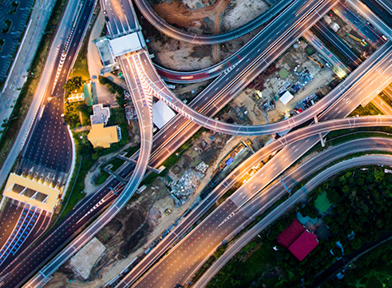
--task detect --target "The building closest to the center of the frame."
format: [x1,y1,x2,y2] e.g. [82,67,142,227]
[151,99,176,130]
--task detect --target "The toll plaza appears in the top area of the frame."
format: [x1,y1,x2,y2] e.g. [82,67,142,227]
[109,30,145,58]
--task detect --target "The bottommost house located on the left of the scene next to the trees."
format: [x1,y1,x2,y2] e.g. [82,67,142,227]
[92,123,117,147]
